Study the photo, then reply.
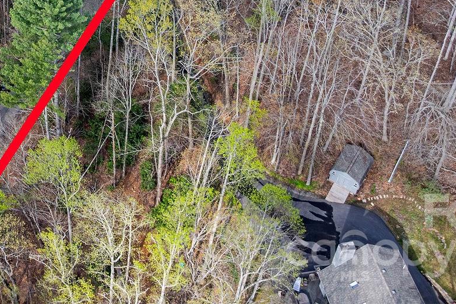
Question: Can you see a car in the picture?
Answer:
No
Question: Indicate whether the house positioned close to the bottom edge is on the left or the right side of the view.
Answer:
right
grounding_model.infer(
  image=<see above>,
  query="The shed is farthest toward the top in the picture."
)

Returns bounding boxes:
[330,136,376,191]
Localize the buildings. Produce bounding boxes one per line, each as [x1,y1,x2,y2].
[317,238,436,304]
[330,136,376,191]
